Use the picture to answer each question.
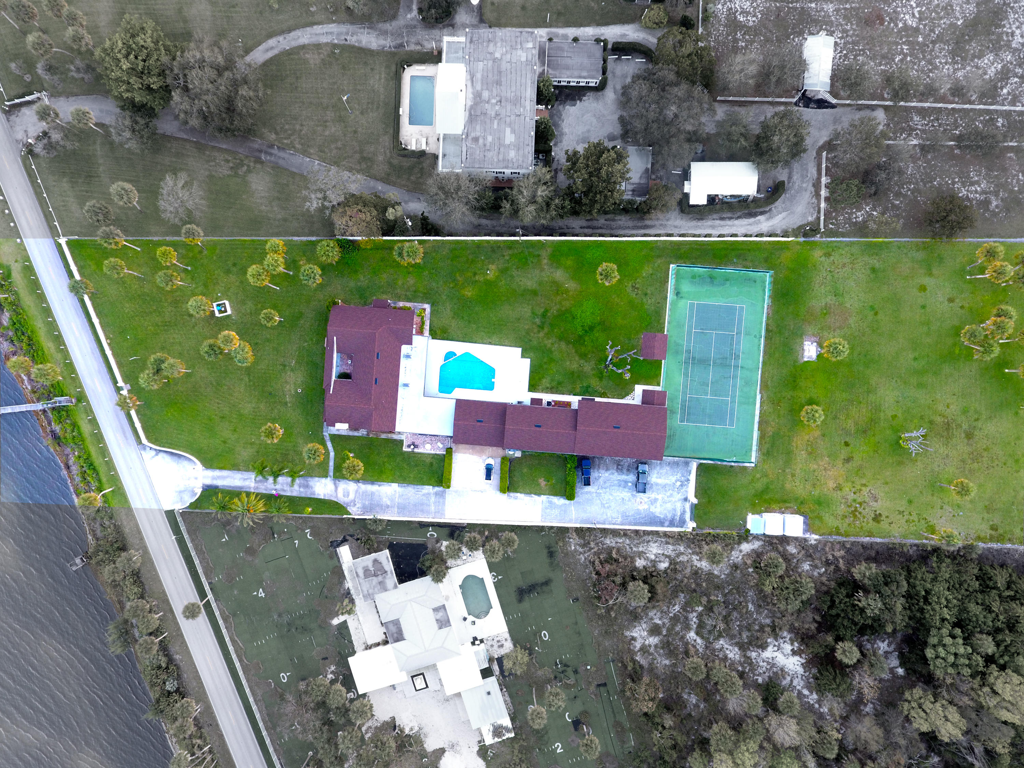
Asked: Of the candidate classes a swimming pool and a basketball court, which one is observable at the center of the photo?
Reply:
swimming pool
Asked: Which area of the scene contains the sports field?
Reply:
bottom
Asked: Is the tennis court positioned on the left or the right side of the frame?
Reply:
right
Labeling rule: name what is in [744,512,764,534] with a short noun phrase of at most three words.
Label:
shed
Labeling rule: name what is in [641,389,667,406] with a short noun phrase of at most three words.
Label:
building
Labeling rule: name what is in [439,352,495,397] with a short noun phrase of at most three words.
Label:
swimming pool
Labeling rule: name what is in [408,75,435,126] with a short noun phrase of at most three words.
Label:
swimming pool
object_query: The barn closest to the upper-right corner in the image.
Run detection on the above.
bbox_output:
[799,30,834,95]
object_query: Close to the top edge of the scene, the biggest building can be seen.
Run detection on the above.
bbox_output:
[436,28,539,189]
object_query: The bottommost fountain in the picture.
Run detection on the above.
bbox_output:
[411,672,429,692]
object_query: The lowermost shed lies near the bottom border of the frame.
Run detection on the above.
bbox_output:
[461,674,515,746]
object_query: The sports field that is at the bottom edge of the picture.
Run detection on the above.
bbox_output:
[198,521,632,768]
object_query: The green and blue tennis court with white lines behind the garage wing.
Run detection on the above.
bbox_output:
[660,264,774,467]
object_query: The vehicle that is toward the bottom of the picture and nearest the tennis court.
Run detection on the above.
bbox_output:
[636,462,650,494]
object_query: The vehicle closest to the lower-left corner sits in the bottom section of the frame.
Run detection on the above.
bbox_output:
[483,458,495,482]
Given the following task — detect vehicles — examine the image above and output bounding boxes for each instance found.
[636,462,650,494]
[483,458,495,482]
[581,459,592,487]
